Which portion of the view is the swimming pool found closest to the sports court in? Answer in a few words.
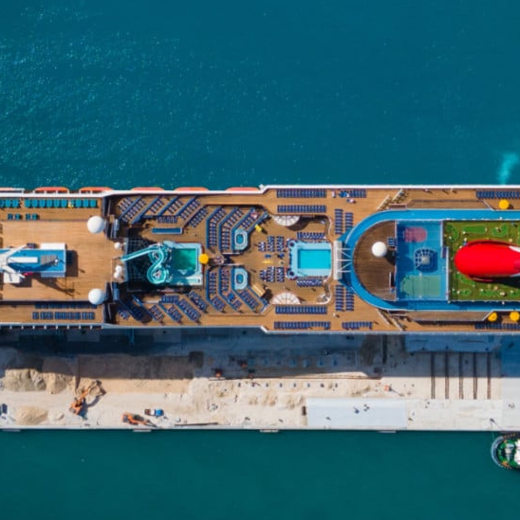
center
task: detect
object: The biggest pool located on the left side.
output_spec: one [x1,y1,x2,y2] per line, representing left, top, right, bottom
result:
[164,241,201,286]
